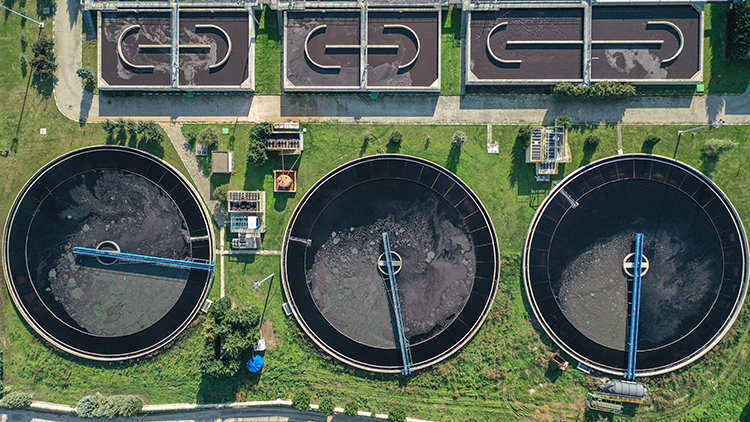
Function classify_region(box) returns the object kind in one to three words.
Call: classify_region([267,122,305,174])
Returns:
building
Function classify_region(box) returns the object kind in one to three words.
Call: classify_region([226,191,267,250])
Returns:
building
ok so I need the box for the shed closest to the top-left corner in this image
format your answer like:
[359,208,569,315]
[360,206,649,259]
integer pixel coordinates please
[212,151,237,173]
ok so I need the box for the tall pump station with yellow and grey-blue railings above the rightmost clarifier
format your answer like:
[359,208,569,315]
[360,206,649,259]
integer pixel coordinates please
[524,116,574,182]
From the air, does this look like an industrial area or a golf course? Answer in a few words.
industrial area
